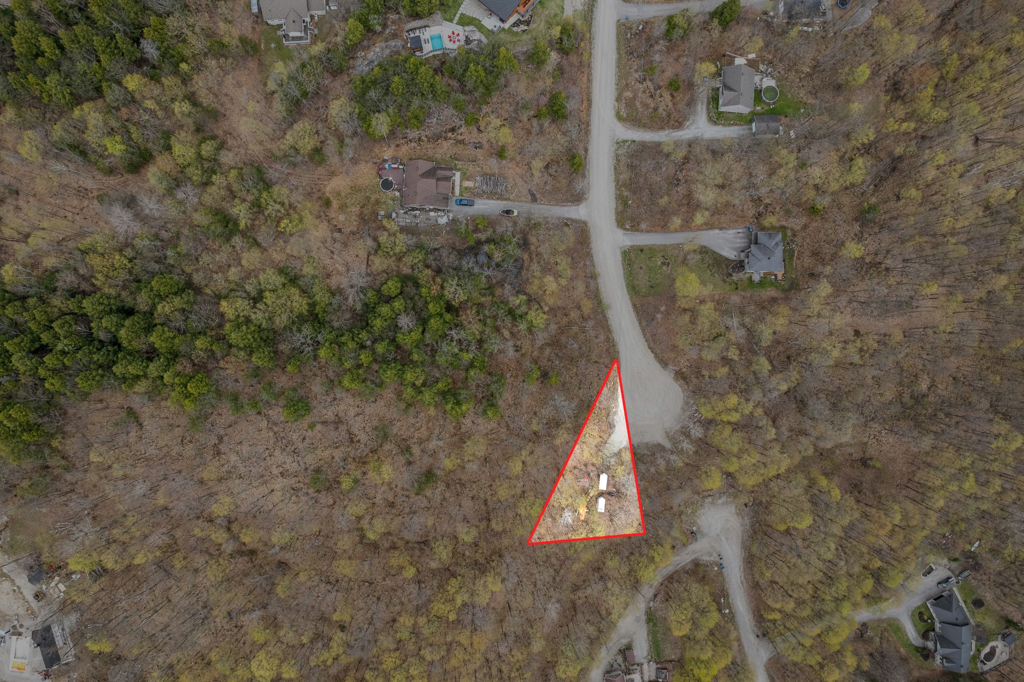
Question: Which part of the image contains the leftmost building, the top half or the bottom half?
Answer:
bottom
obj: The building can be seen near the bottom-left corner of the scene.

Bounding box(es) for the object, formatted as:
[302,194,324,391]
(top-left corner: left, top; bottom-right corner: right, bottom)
[29,624,66,667]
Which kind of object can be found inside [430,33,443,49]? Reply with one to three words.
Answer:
swimming pool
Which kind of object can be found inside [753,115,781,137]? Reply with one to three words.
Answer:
building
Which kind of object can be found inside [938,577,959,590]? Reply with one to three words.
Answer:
vehicle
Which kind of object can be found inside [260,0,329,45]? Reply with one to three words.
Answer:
house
